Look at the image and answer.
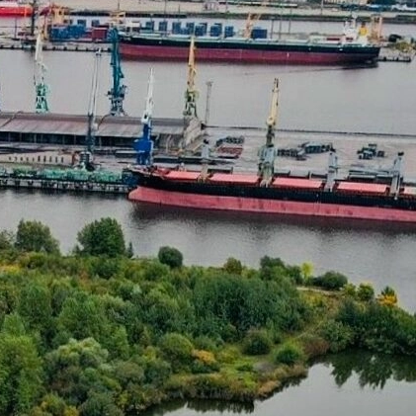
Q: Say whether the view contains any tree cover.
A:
Yes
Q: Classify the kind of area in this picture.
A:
port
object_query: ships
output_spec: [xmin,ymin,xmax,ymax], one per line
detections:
[0,0,42,15]
[114,14,381,65]
[126,138,416,222]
